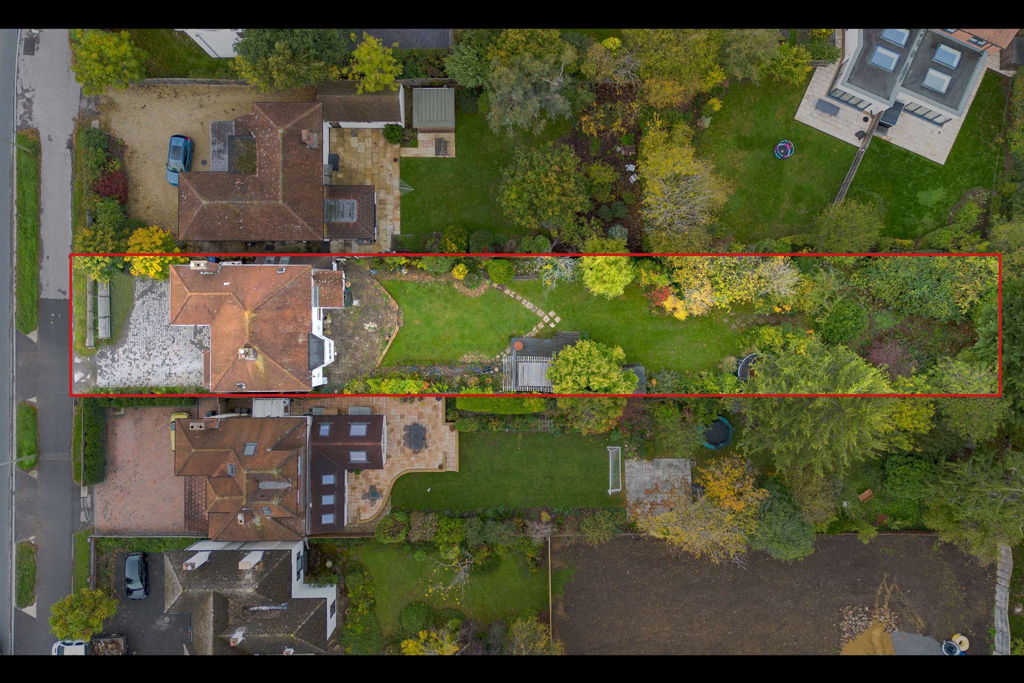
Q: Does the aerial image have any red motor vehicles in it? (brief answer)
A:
No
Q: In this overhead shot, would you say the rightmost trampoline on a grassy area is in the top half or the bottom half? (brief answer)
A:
top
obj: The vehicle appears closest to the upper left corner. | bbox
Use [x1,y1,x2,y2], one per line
[164,134,194,186]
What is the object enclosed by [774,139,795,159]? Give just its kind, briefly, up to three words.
trampoline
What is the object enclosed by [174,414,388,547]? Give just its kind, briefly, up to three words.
house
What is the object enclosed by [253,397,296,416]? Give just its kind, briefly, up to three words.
building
